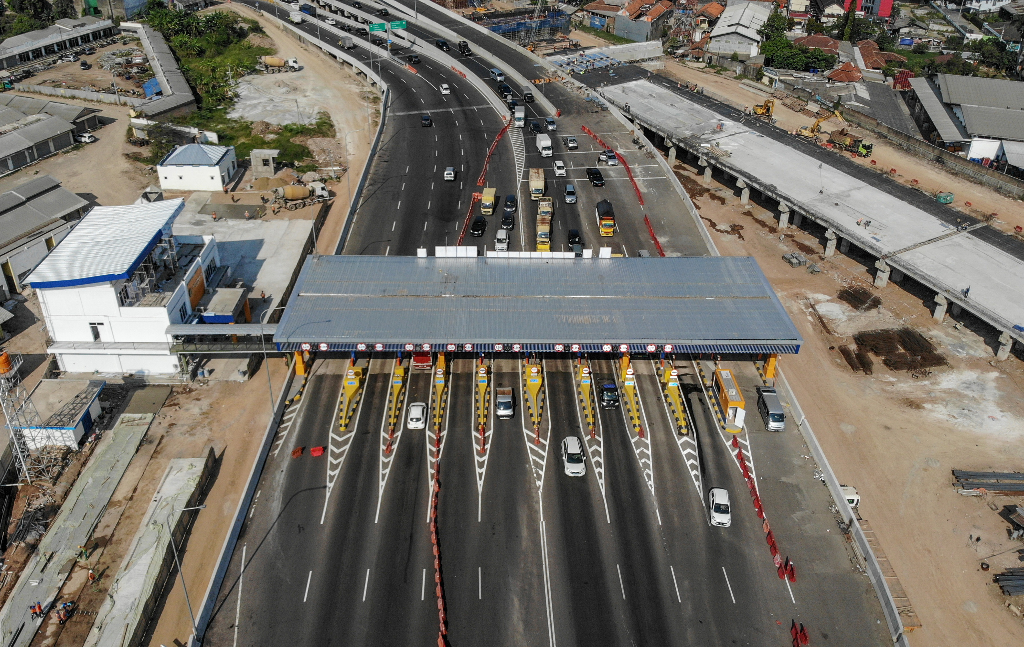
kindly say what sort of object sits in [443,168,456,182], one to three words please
vehicle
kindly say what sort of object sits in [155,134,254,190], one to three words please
building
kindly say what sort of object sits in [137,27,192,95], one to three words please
building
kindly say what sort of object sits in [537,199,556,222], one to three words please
vehicle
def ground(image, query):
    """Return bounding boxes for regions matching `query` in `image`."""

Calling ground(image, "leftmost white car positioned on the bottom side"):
[405,405,428,432]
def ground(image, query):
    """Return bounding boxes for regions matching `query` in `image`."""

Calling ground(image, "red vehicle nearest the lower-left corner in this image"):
[411,352,432,373]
